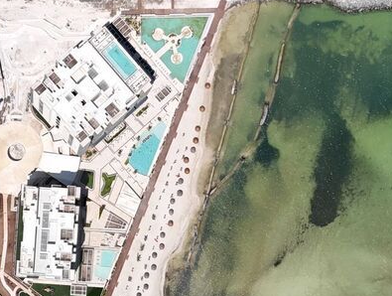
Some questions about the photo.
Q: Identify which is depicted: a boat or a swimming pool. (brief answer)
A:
swimming pool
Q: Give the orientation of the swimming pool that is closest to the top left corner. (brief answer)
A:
at an angle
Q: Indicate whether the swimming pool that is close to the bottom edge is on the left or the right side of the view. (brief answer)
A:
left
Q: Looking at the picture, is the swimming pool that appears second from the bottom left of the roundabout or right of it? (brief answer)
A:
right of it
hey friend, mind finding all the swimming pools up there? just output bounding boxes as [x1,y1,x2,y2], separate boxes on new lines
[112,44,136,73]
[127,120,169,176]
[94,247,121,283]
[141,15,213,84]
